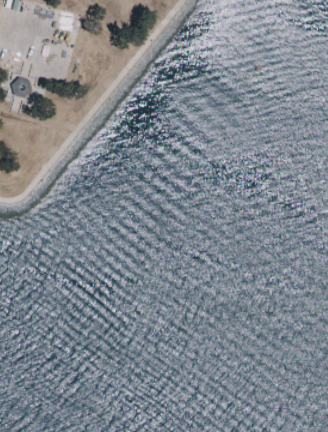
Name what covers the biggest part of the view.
water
